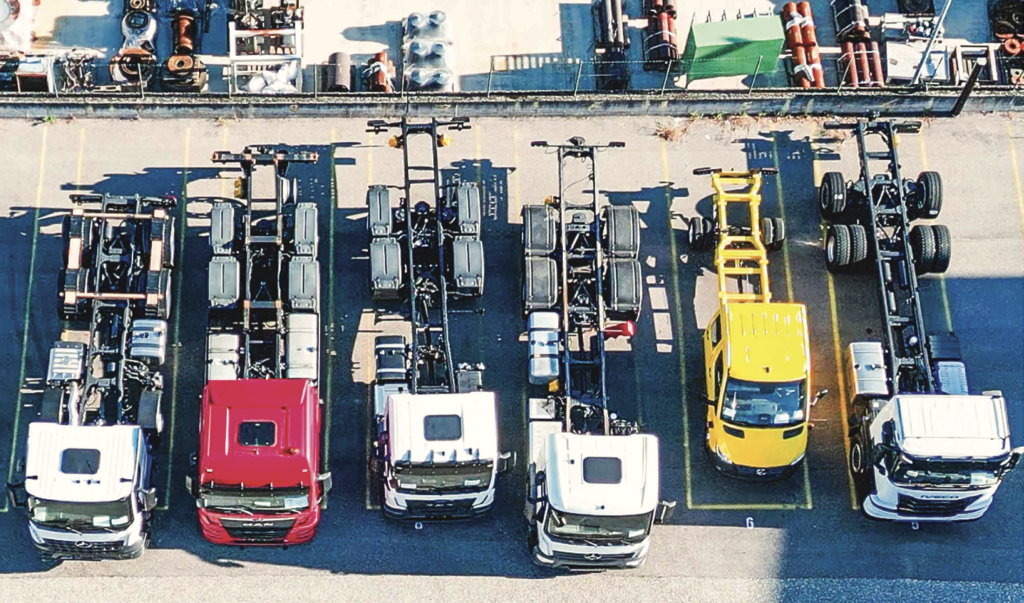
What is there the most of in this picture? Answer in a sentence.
What you mostly see from above here is paved ground.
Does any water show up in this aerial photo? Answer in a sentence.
No, there is no water in the image.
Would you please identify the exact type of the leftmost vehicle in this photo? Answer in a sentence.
From above, the leftmost vehicle can be identified as a truck.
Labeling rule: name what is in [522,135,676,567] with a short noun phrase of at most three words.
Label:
truck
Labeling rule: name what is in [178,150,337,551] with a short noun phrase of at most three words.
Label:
truck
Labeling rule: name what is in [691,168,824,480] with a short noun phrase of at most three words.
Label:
van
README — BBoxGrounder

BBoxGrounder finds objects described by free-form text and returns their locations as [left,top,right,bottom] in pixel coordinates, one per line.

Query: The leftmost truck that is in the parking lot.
[7,197,176,558]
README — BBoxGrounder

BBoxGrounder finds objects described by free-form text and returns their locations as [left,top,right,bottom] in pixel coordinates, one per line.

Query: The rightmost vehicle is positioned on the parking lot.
[823,113,1024,525]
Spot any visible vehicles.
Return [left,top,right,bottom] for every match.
[522,135,676,567]
[178,150,337,551]
[691,168,824,480]
[823,113,1024,525]
[369,120,516,520]
[7,197,176,558]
